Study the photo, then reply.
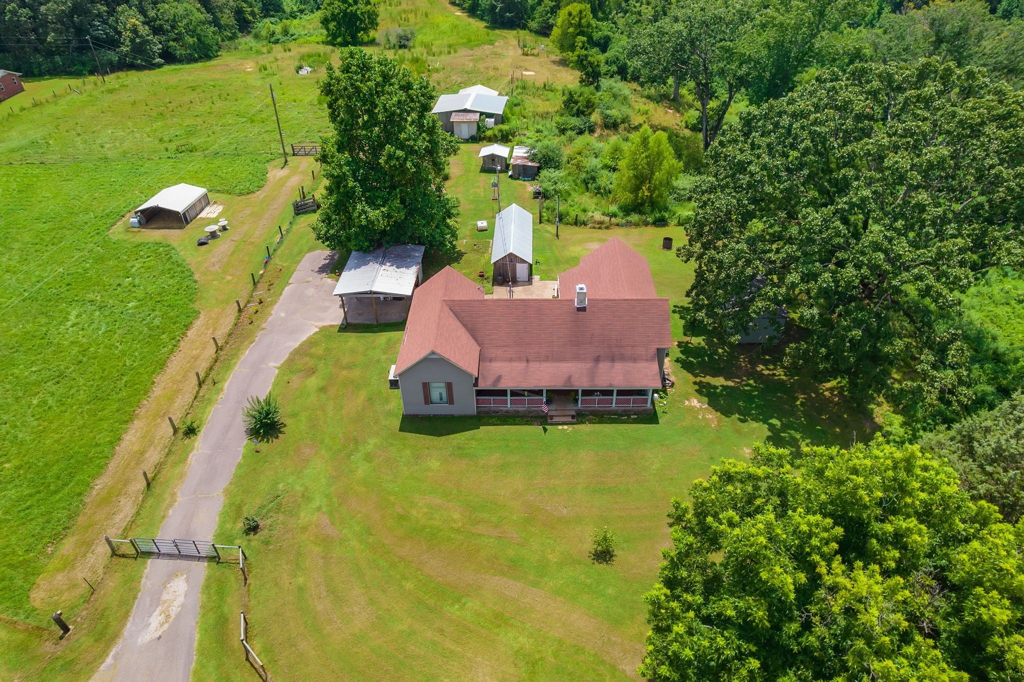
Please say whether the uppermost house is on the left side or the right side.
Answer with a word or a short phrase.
left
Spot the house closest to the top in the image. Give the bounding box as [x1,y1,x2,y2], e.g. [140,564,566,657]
[0,64,32,99]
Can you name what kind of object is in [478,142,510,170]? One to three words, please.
shed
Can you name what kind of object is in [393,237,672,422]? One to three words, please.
house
